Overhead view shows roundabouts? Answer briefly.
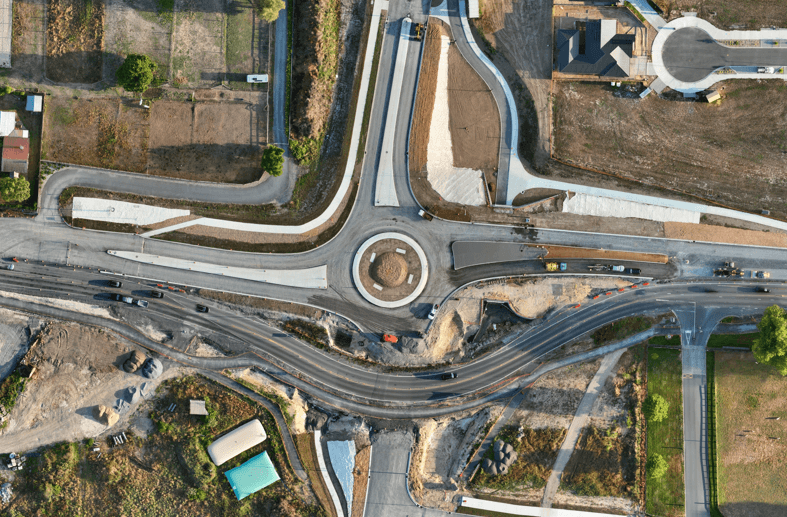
Yes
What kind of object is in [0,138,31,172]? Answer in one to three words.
house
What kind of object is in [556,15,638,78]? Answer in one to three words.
house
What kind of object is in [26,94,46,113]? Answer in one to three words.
shed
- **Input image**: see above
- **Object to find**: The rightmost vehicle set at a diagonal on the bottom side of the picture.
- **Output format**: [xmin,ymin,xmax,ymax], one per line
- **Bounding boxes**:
[426,303,440,321]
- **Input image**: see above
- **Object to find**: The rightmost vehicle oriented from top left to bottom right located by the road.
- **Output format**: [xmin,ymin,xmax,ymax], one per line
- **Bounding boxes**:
[417,207,433,222]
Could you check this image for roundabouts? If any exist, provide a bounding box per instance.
[329,209,451,314]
